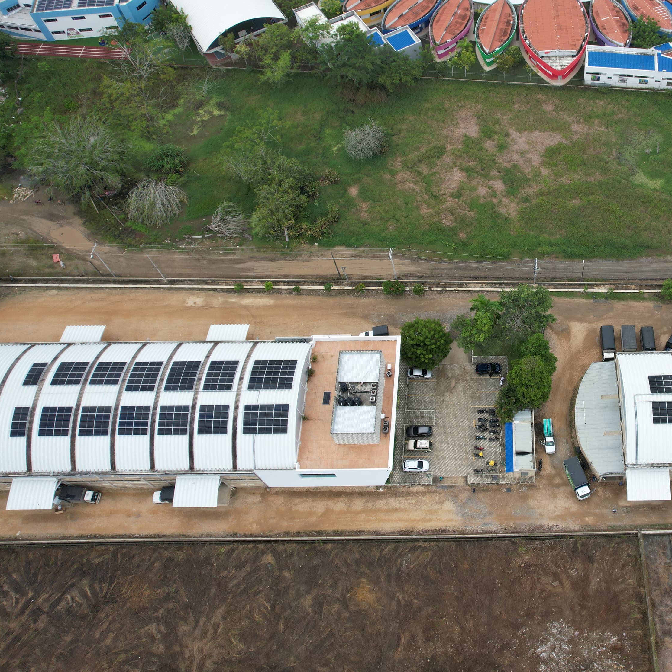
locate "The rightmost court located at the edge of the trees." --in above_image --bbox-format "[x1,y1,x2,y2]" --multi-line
[169,1,280,66]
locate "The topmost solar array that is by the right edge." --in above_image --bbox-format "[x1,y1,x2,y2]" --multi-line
[648,374,672,392]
